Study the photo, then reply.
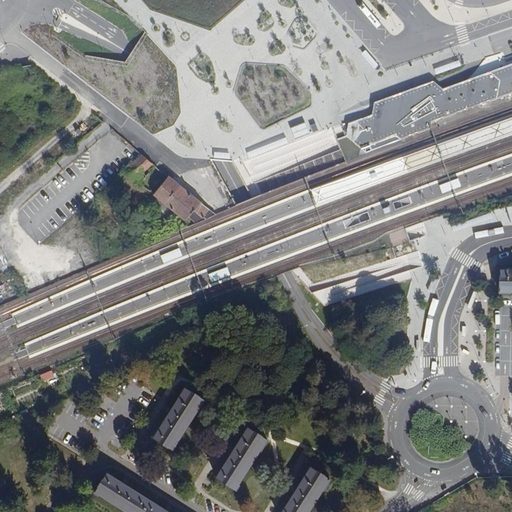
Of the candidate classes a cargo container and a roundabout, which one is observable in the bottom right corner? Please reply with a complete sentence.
Looking in the bottom right corner, you will find a roundabout.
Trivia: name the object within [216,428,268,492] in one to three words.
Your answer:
building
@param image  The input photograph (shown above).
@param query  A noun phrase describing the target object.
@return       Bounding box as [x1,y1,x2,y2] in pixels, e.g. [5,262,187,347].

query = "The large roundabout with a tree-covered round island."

[388,370,498,482]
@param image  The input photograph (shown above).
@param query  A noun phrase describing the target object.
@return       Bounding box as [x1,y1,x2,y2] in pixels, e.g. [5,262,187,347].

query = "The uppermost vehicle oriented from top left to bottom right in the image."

[360,2,383,29]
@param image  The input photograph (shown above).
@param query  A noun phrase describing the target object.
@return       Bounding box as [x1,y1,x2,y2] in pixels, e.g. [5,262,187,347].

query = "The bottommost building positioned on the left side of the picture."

[92,474,168,512]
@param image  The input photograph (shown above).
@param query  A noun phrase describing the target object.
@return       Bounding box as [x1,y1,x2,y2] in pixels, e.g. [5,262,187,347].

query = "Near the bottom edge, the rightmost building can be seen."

[282,468,330,512]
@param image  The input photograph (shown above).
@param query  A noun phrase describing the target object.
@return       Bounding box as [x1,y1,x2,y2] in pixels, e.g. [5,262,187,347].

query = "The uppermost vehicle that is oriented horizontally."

[473,228,504,240]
